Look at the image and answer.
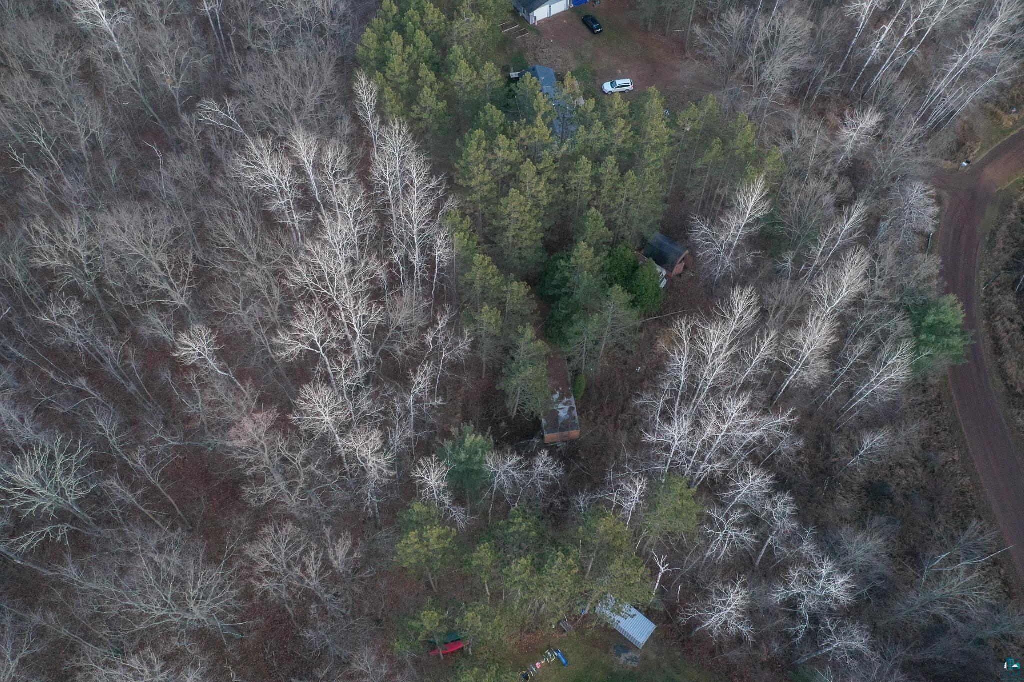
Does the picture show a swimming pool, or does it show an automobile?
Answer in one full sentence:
There is an automobile in the scene.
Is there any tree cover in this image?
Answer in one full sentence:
Yes, there's tree cover in this view.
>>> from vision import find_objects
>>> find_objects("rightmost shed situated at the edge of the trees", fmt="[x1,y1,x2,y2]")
[648,233,694,279]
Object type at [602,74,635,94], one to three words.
car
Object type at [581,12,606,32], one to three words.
car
